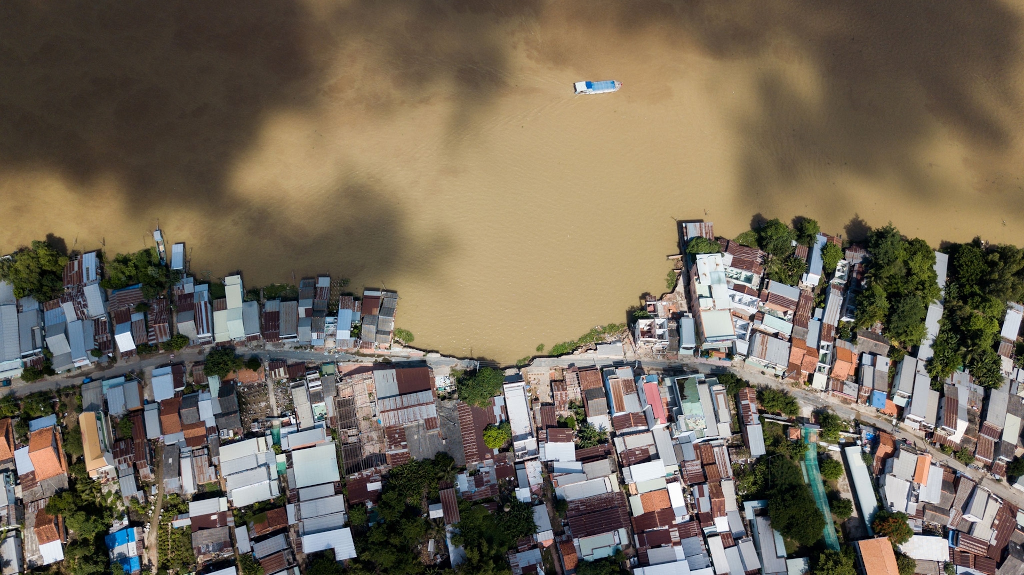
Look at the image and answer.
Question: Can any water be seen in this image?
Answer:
Yes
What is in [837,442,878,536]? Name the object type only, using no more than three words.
building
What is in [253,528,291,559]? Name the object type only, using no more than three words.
house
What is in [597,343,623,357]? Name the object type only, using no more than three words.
shed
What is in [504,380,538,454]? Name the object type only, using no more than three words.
house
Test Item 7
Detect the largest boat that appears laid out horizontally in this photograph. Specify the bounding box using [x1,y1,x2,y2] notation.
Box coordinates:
[574,80,623,95]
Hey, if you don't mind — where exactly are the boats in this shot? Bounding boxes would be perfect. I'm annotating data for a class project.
[154,220,167,264]
[574,80,623,95]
